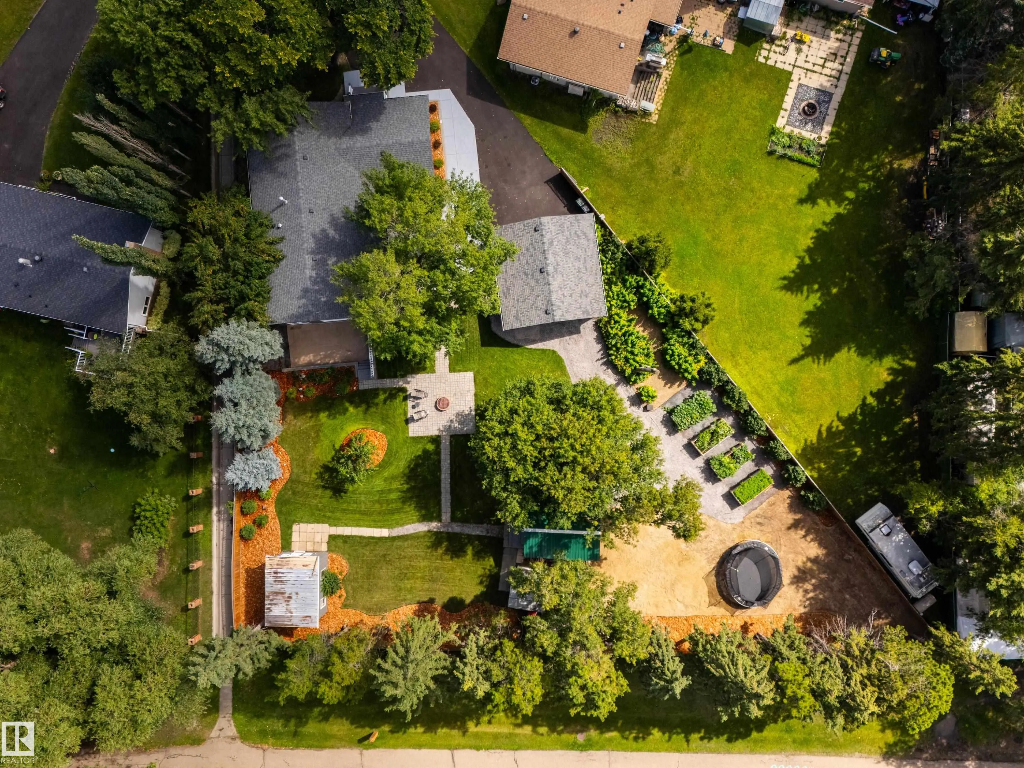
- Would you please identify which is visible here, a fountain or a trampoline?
trampoline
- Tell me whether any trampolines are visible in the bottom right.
Yes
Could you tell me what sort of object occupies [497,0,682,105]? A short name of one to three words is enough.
house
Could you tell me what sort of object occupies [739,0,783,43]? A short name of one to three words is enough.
shed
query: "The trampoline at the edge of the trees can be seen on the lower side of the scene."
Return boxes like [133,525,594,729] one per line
[720,543,791,611]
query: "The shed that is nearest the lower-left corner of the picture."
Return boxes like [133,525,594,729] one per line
[262,548,326,628]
